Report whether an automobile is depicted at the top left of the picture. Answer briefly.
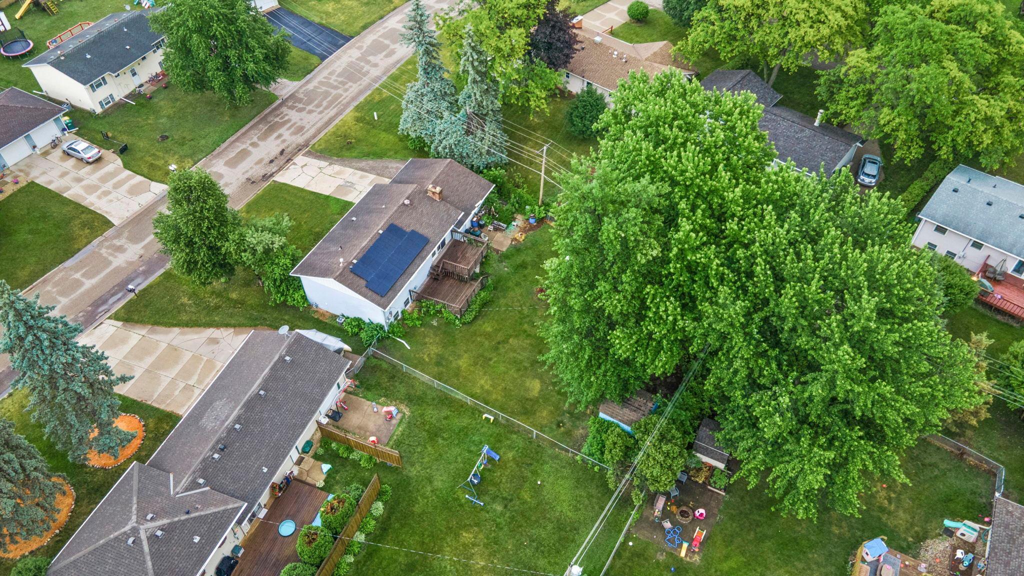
Yes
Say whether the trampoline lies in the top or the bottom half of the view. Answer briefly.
top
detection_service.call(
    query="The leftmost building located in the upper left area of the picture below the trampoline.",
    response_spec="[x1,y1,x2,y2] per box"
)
[0,85,88,171]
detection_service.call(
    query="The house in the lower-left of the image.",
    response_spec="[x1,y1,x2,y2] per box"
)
[43,325,351,576]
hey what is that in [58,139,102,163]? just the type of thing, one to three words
car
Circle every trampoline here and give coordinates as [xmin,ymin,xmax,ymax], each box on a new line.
[0,28,35,61]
